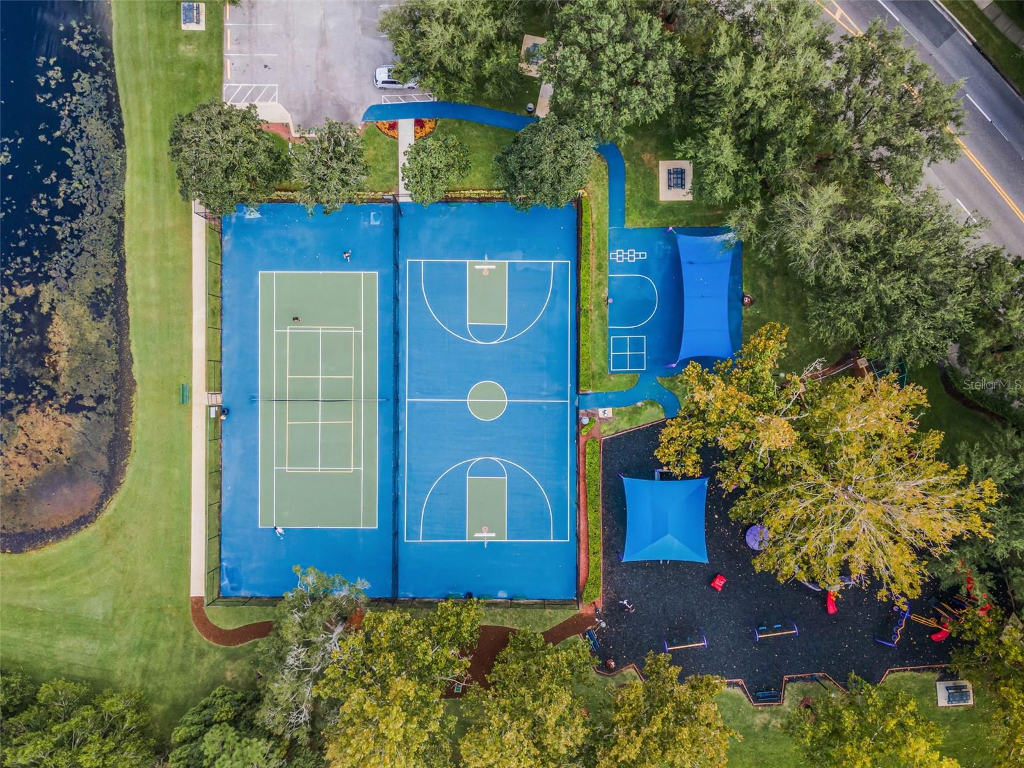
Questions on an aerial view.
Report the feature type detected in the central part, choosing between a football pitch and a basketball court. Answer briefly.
basketball court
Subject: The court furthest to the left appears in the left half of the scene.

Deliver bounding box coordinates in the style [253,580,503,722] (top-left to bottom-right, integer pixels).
[220,203,398,598]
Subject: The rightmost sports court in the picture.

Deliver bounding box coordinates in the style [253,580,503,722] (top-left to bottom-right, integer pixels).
[609,227,742,374]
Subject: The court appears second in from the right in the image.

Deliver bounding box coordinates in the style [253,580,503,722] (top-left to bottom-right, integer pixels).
[395,203,577,598]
